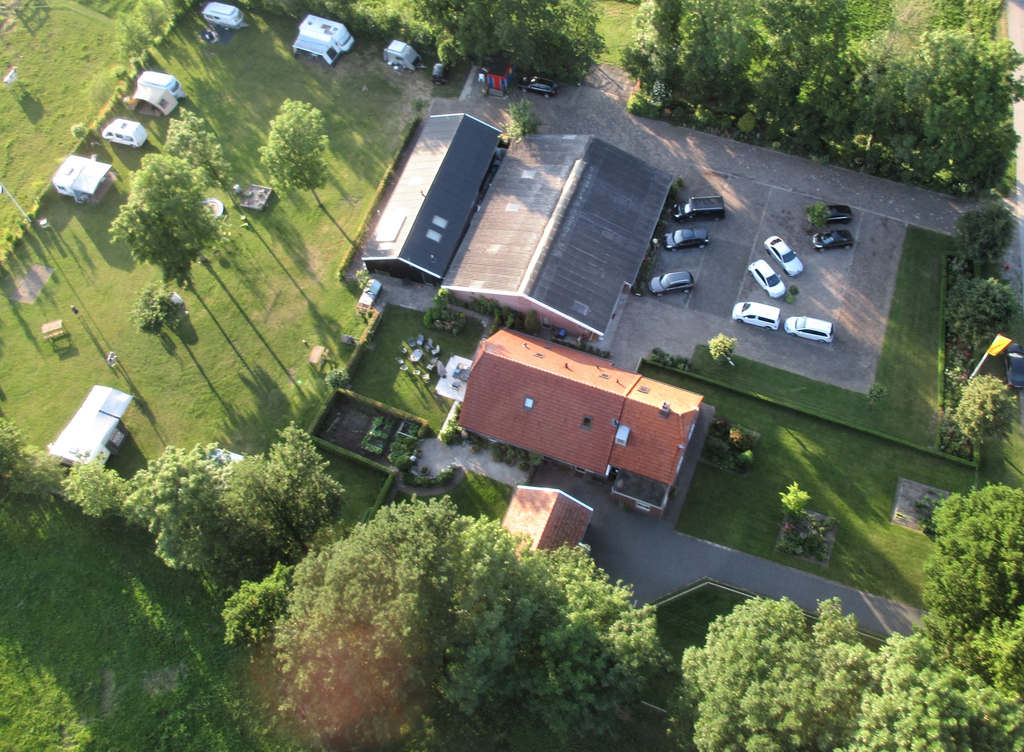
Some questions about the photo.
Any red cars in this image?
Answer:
No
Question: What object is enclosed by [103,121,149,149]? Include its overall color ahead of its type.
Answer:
white van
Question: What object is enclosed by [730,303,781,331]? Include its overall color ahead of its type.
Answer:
white vehicle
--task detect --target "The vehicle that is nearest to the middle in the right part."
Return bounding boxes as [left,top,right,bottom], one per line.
[648,272,695,297]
